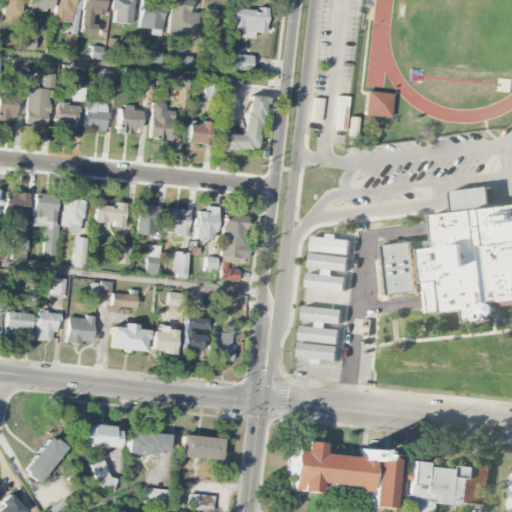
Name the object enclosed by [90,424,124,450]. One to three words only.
house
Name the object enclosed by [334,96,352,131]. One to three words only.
building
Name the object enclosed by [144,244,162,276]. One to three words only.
building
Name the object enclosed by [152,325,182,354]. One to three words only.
house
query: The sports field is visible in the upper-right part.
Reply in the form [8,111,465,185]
[392,0,512,109]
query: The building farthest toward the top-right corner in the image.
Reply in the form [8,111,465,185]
[366,92,396,118]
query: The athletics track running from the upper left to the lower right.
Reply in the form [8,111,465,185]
[366,0,512,124]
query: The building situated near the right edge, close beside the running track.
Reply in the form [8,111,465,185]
[412,187,512,322]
